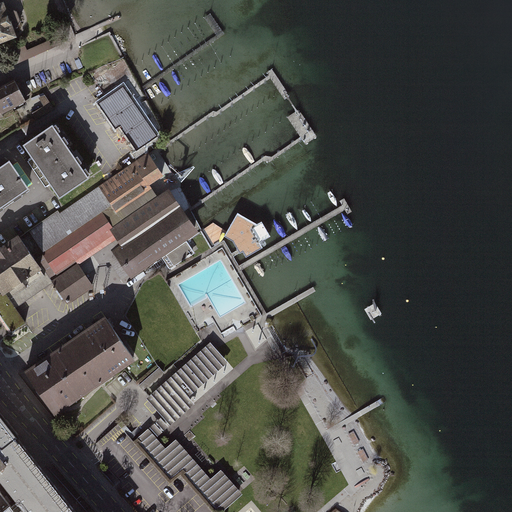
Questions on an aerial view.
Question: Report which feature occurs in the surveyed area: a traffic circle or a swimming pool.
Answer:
swimming pool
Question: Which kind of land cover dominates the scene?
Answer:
water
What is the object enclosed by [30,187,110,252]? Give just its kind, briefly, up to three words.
building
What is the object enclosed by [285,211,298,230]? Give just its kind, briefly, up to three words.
boat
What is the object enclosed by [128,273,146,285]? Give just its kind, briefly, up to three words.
vehicle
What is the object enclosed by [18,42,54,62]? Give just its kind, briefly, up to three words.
shed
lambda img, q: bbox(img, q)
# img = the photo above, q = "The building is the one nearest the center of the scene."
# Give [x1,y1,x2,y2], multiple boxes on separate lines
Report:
[226,214,270,256]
